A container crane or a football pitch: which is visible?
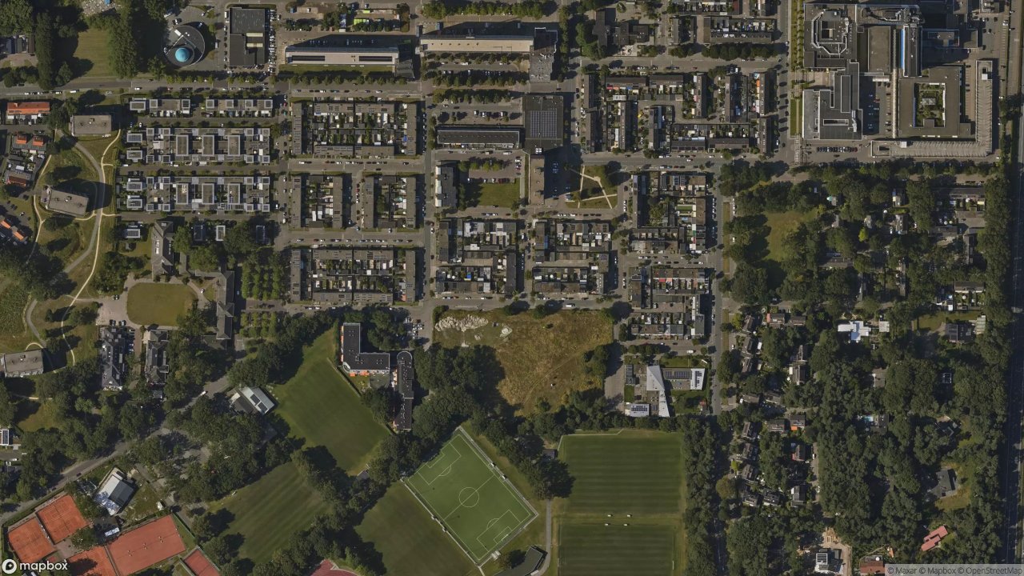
football pitch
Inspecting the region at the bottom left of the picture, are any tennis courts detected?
Yes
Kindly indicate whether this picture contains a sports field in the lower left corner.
Yes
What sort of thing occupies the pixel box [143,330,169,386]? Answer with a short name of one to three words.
house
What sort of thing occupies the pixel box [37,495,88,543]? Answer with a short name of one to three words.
tennis court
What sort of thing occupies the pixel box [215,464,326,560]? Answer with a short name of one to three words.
sports field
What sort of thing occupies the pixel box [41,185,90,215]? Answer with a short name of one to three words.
building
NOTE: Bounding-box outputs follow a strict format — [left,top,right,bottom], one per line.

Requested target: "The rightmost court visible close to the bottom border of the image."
[184,547,217,576]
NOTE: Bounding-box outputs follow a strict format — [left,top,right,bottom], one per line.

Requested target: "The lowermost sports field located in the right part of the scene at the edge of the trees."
[559,524,674,576]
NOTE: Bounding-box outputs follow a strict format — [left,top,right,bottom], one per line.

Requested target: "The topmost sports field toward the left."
[280,331,389,474]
